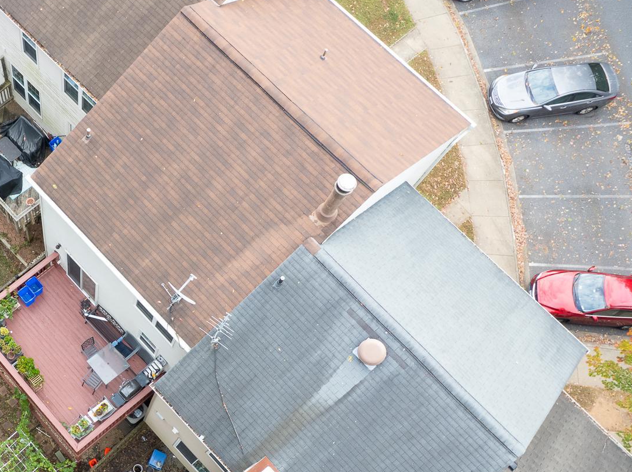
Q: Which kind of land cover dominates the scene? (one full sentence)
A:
Most of the picture is covered by buildings.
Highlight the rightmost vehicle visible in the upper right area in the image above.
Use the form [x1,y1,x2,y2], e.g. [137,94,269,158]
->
[486,61,626,125]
